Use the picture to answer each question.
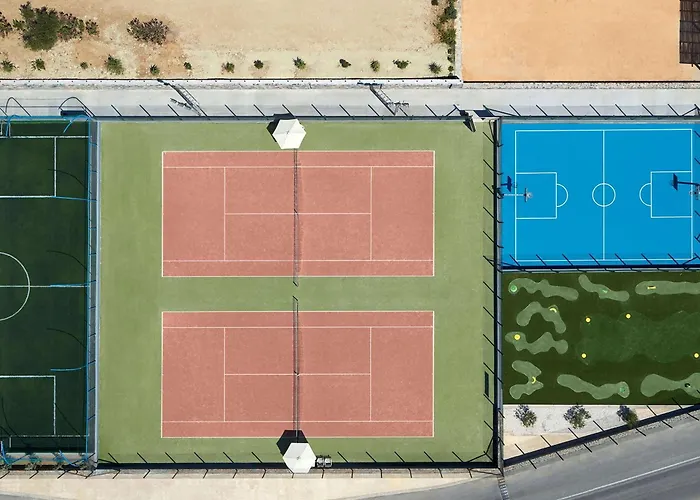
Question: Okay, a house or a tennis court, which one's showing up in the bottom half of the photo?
tennis court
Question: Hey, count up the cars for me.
zero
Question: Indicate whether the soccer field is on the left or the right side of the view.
left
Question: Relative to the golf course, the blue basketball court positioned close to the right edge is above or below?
above it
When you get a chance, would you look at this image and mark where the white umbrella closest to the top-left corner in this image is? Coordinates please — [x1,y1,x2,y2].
[272,119,306,149]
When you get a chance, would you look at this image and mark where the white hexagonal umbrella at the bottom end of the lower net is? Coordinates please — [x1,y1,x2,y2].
[283,443,317,473]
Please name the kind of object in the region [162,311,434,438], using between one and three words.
tennis court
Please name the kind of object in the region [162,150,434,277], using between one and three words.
tennis court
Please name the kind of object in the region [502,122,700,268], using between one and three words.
basketball court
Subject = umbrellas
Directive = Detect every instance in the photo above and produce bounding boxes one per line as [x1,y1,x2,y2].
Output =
[283,443,317,473]
[272,119,306,149]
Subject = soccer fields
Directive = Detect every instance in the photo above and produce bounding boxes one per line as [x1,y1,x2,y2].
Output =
[0,122,90,451]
